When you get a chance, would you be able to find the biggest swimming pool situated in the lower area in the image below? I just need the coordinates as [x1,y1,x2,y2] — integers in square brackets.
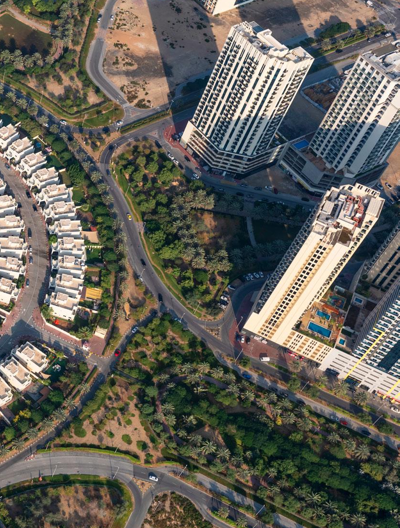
[309,325,333,342]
